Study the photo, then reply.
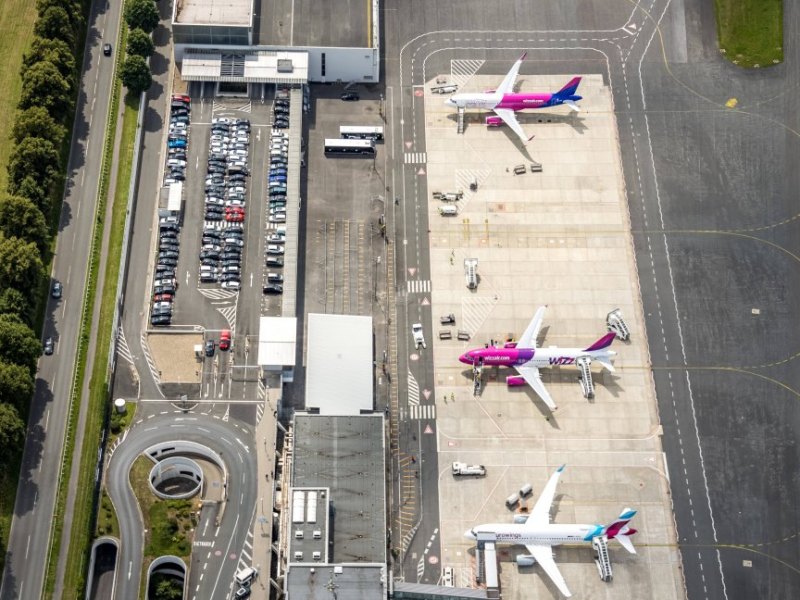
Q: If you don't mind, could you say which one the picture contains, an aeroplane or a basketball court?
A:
aeroplane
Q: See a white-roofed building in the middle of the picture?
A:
Yes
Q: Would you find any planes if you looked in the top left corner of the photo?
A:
No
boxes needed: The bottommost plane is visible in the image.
[464,461,637,596]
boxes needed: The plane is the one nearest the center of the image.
[459,302,618,411]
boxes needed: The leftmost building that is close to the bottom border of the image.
[270,411,388,600]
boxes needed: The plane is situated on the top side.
[445,51,584,140]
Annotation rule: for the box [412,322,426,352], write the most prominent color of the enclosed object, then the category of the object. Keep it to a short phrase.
white work vehicle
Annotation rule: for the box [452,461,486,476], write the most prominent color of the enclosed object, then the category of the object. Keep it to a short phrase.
white work vehicle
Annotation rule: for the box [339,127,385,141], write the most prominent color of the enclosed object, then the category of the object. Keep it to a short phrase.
white vehicle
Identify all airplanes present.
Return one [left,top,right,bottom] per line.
[445,51,584,140]
[459,302,618,411]
[464,461,637,596]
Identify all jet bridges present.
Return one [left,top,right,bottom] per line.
[477,531,500,600]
